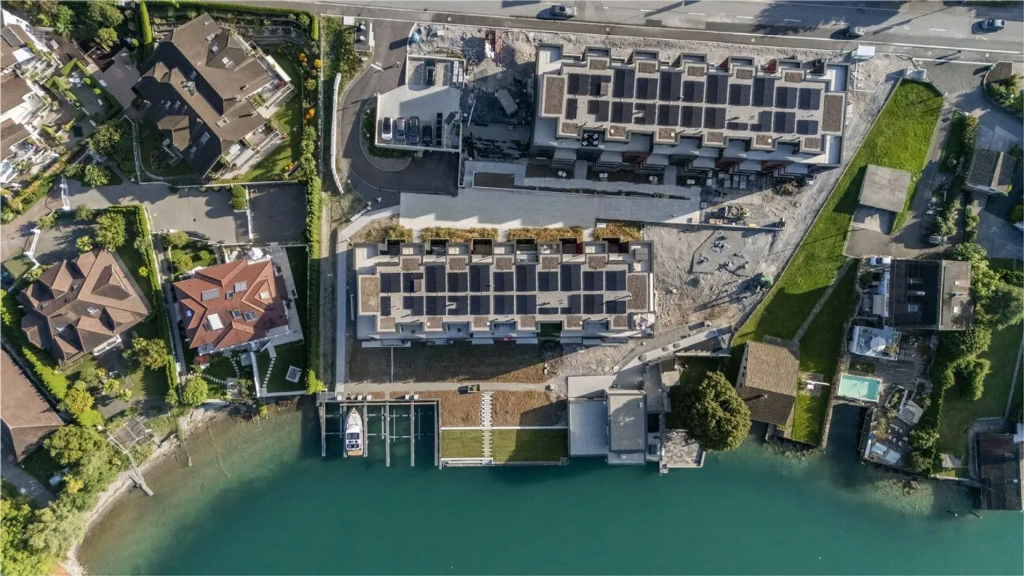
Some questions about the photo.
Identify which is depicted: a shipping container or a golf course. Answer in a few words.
shipping container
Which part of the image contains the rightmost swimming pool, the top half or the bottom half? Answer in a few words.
bottom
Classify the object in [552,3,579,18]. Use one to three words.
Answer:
car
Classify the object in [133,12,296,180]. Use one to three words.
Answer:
house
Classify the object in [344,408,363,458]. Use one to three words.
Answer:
boat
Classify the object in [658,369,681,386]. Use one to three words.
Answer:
shed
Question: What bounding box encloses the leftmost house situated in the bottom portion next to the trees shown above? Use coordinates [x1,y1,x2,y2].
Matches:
[0,335,71,462]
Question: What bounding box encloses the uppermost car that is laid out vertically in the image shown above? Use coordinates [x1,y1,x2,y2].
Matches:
[424,60,436,85]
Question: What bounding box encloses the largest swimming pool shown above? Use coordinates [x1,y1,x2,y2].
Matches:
[835,372,883,403]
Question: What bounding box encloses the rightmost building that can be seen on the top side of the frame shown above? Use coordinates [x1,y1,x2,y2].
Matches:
[960,149,1015,190]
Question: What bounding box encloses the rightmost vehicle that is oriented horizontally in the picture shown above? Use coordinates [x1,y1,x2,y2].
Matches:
[981,16,1010,30]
